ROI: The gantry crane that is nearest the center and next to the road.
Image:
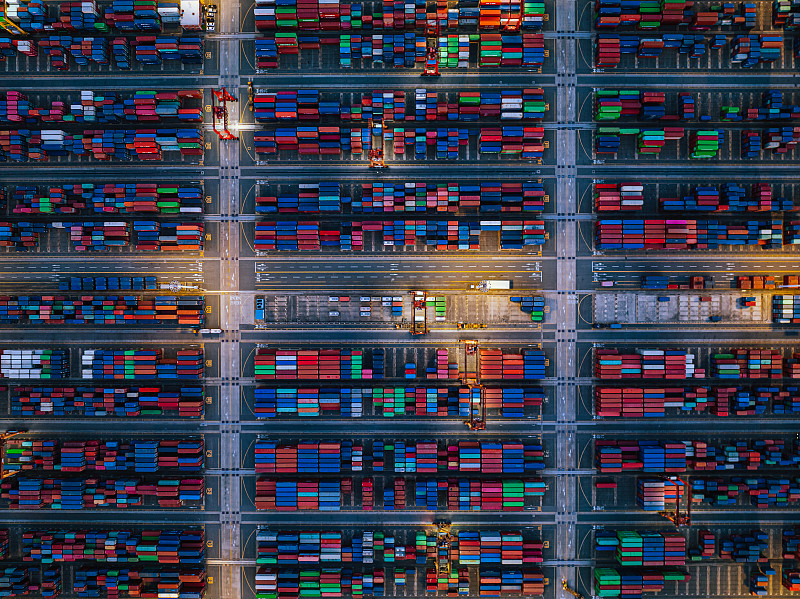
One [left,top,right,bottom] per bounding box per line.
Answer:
[409,288,428,336]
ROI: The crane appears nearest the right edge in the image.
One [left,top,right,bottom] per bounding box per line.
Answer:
[659,471,691,527]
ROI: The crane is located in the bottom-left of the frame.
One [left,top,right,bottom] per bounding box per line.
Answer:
[0,429,26,483]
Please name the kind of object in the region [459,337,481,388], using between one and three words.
container crane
